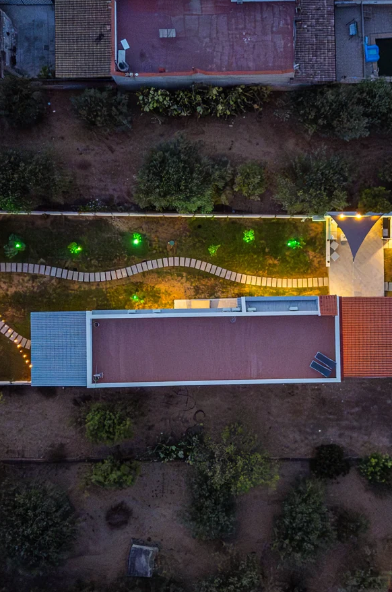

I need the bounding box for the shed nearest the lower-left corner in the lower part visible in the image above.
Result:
[129,537,159,577]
